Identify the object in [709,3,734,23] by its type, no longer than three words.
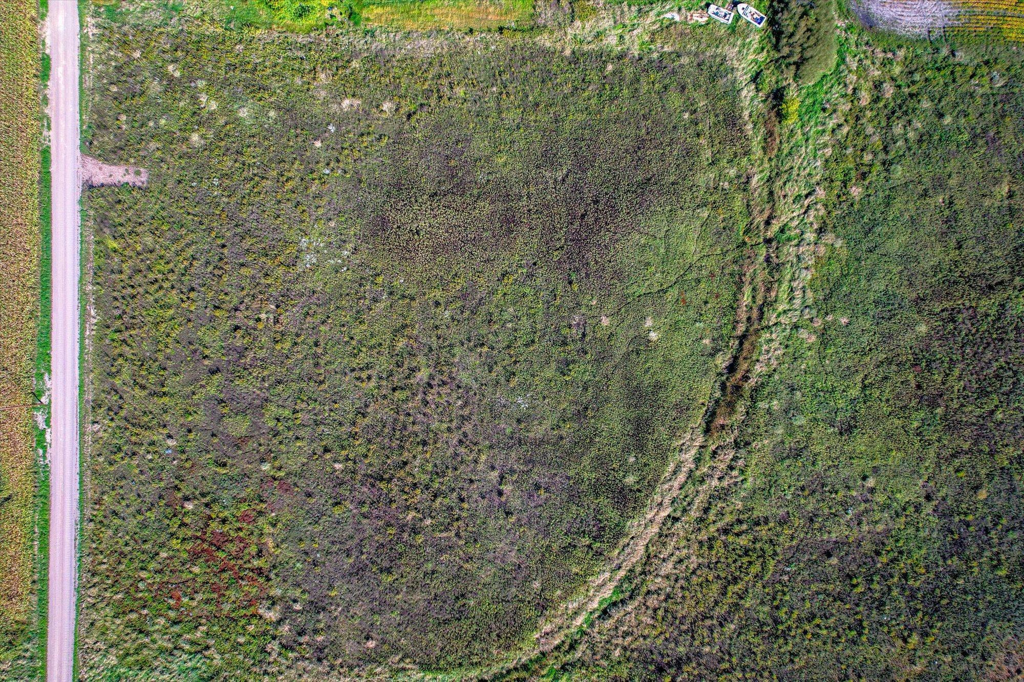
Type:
boat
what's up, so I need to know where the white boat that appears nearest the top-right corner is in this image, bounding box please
[738,2,767,26]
